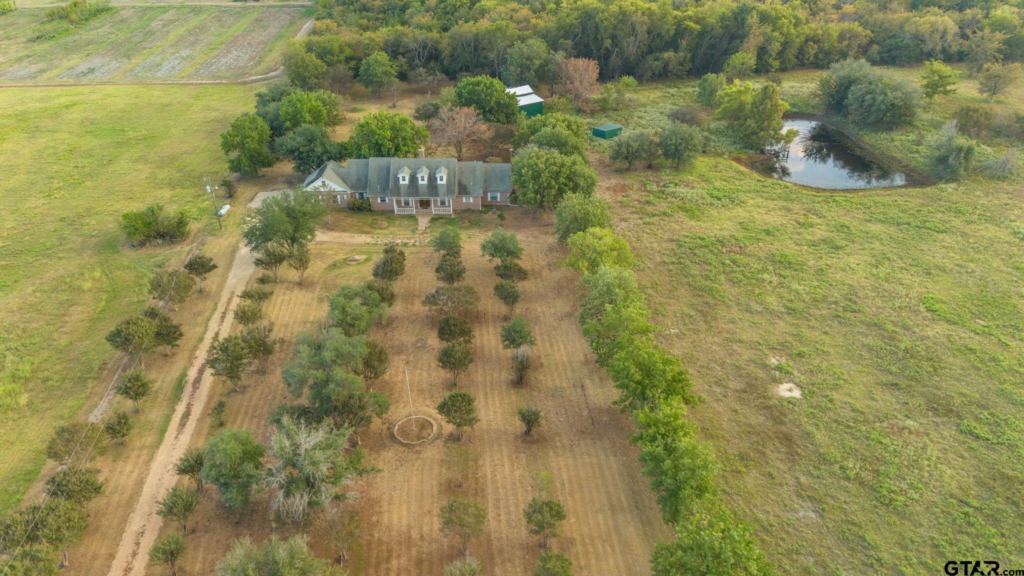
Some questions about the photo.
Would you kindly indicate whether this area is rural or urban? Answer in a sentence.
From above, the setting appears rural.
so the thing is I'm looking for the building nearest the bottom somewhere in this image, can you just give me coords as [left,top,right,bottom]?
[298,148,527,215]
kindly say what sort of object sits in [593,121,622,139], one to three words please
shed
